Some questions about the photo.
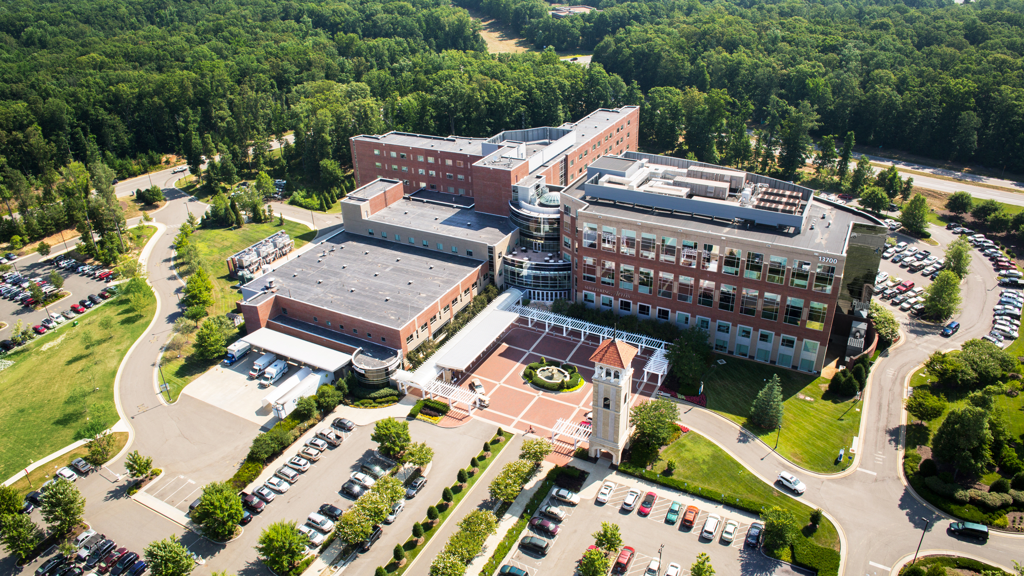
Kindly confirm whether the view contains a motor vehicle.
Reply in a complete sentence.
Yes, this view includes a motor vehicle.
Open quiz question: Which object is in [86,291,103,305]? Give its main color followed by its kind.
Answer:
gray car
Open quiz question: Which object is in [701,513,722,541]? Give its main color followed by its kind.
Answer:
white car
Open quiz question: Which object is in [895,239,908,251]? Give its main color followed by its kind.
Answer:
white vehicle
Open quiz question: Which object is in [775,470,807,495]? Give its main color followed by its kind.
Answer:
white car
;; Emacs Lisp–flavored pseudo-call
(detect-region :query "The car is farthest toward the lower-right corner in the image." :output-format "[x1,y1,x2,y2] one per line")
[948,519,990,543]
